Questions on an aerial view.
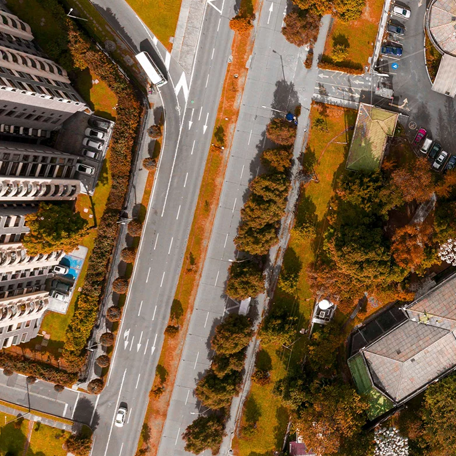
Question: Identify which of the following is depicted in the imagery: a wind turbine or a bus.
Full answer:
Of the two, only a bus appears.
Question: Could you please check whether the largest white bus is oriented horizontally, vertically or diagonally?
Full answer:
Seen from above, the largest white bus lies diagonally.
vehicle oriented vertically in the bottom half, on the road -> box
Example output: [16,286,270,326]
[117,405,129,427]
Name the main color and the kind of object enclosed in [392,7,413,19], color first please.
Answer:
white vehicle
